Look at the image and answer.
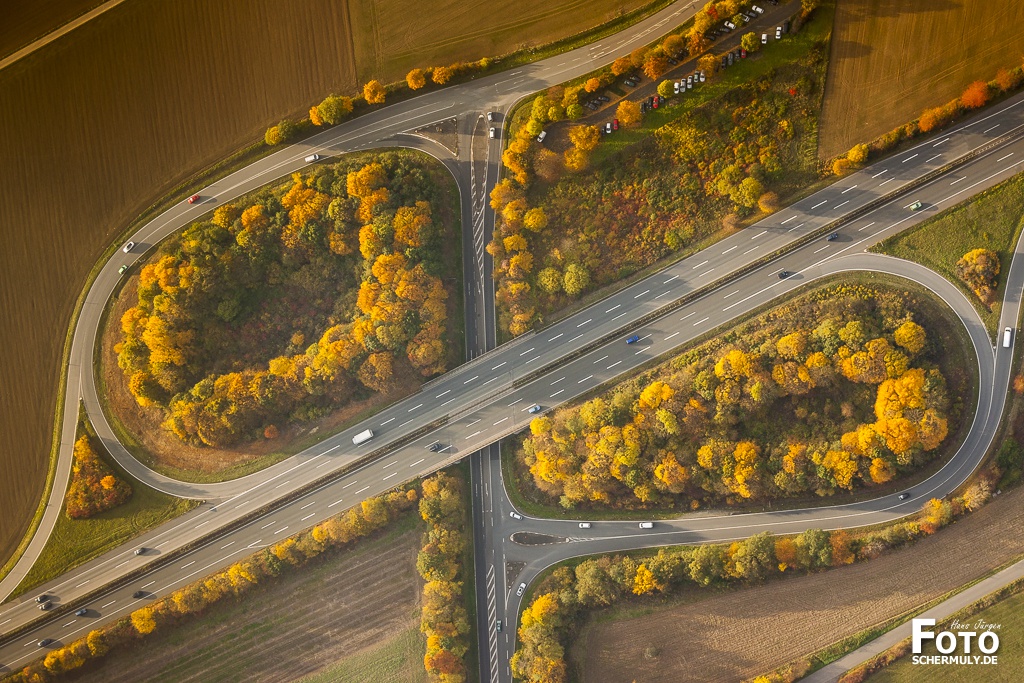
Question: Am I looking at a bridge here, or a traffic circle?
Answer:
bridge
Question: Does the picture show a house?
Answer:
No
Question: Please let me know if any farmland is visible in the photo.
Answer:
Yes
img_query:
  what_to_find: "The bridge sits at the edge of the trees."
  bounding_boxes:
[422,327,542,477]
